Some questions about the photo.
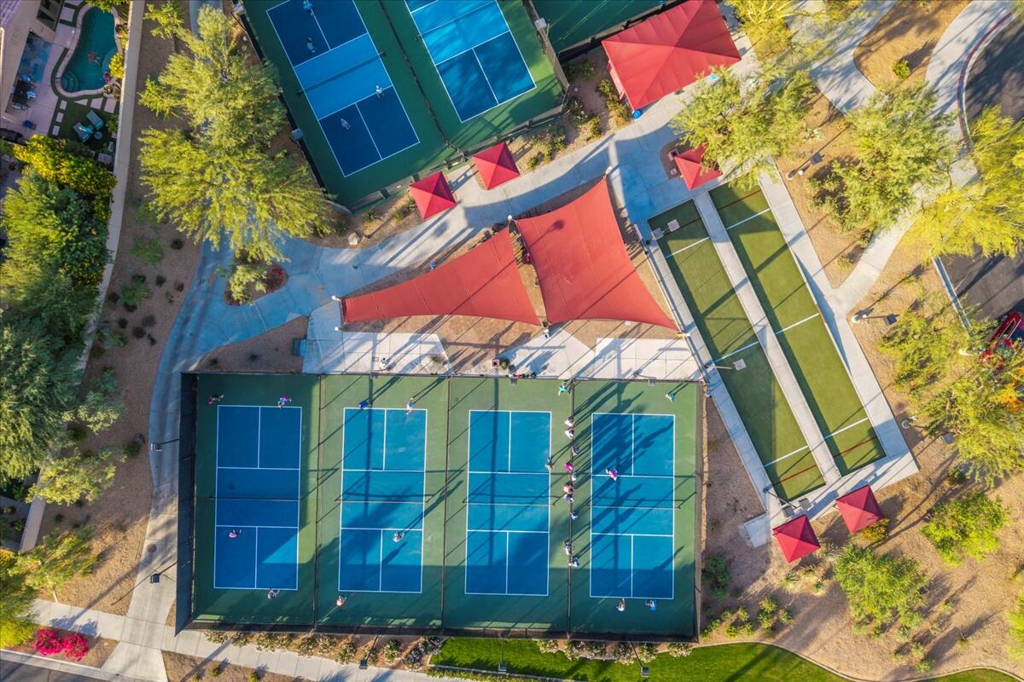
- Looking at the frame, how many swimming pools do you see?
1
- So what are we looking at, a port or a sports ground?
sports ground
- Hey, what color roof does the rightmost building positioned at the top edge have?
red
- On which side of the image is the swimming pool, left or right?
left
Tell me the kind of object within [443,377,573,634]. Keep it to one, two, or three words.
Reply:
sports court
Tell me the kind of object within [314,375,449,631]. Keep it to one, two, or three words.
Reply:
sports court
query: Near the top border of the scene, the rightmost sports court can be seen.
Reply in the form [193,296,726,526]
[535,0,683,58]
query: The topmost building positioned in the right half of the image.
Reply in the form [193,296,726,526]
[601,0,740,112]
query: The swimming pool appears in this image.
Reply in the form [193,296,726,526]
[57,5,122,96]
